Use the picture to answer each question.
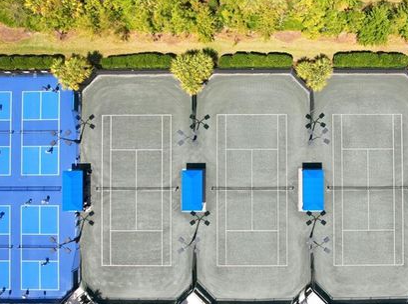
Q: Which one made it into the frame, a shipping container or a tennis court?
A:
tennis court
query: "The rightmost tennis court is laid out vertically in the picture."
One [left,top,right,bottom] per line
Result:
[311,74,408,304]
